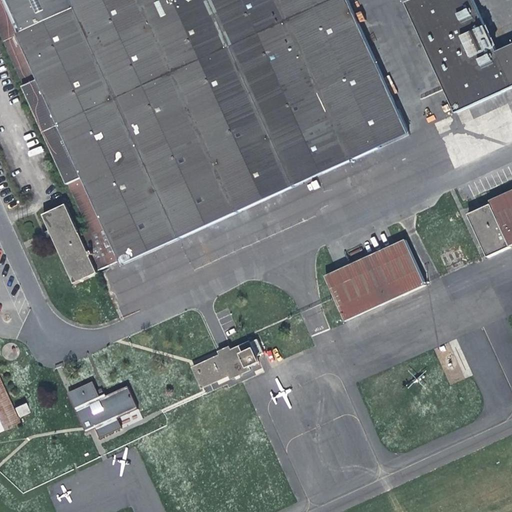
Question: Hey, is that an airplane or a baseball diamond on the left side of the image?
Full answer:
There is an airplane on the left side of the image.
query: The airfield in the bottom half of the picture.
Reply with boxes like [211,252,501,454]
[244,286,512,512]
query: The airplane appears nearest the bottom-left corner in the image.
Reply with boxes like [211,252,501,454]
[58,484,73,504]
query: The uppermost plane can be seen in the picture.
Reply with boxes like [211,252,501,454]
[269,378,291,409]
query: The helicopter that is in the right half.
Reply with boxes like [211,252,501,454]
[402,370,426,389]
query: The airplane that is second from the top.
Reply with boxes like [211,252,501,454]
[112,446,130,476]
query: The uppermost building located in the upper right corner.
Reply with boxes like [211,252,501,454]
[396,0,512,114]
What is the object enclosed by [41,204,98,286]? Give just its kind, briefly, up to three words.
building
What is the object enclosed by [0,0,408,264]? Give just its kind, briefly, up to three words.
hangar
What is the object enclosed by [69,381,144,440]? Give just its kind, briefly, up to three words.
building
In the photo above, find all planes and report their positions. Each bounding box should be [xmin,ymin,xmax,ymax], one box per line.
[112,446,130,476]
[58,484,73,504]
[269,378,291,409]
